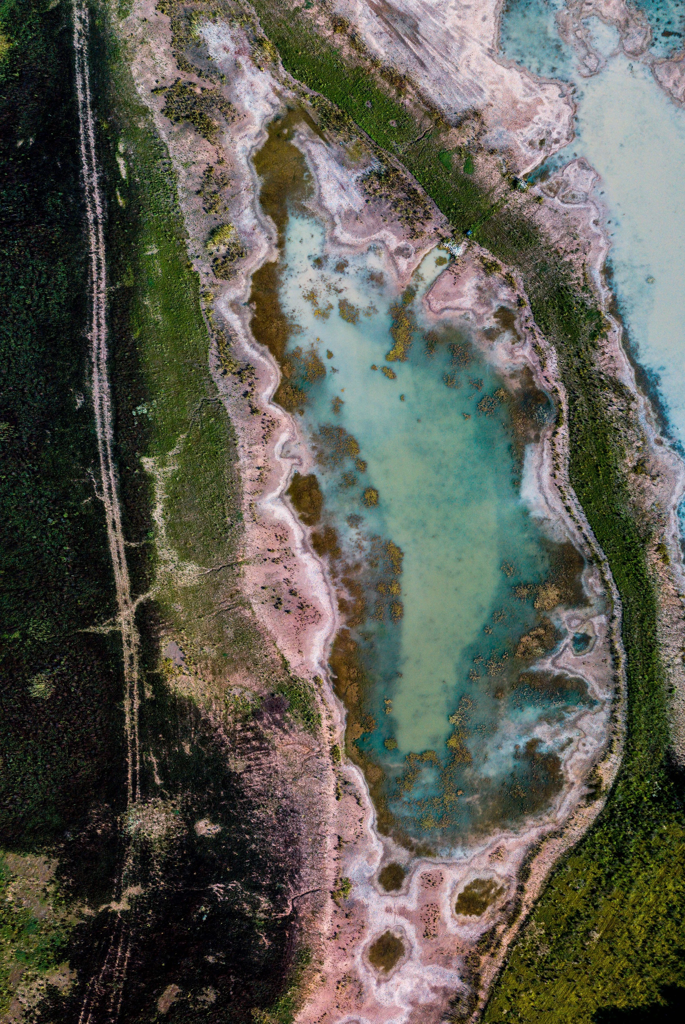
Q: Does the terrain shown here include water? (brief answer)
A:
Yes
